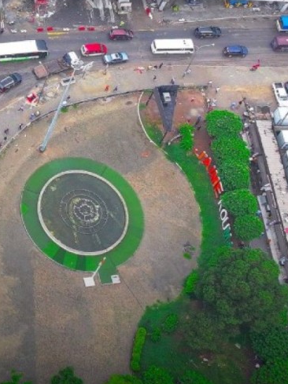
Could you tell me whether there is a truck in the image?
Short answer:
Yes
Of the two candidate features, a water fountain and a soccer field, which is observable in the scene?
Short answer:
water fountain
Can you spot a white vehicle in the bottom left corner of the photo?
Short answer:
No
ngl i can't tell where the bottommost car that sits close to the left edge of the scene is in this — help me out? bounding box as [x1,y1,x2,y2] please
[0,74,23,93]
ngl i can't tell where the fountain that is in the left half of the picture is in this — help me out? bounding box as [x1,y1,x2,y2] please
[21,159,146,274]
